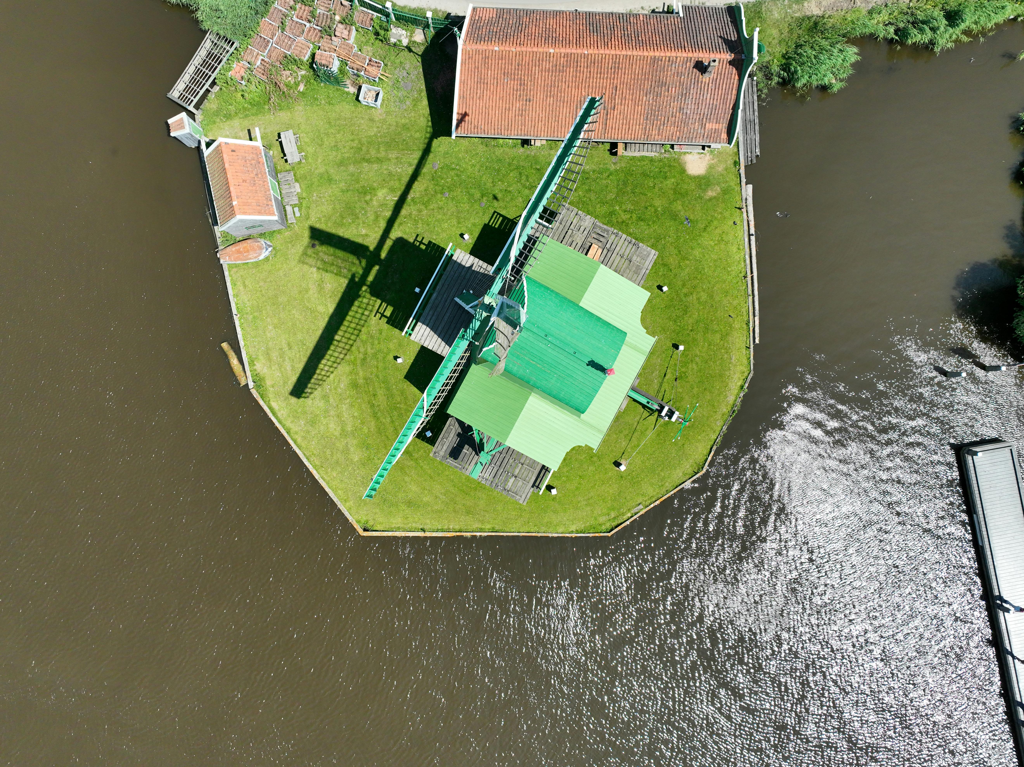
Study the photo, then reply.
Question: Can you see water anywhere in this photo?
Yes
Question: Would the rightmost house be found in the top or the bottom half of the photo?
top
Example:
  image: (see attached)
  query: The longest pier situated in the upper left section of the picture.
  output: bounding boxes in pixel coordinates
[165,28,237,117]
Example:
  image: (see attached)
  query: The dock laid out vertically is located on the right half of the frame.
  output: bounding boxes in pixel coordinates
[962,440,1024,767]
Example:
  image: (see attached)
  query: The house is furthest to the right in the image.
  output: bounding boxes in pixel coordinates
[439,0,762,149]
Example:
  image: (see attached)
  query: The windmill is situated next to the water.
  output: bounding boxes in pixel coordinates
[359,93,697,507]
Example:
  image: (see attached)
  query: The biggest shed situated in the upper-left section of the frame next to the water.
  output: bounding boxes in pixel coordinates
[201,127,286,235]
